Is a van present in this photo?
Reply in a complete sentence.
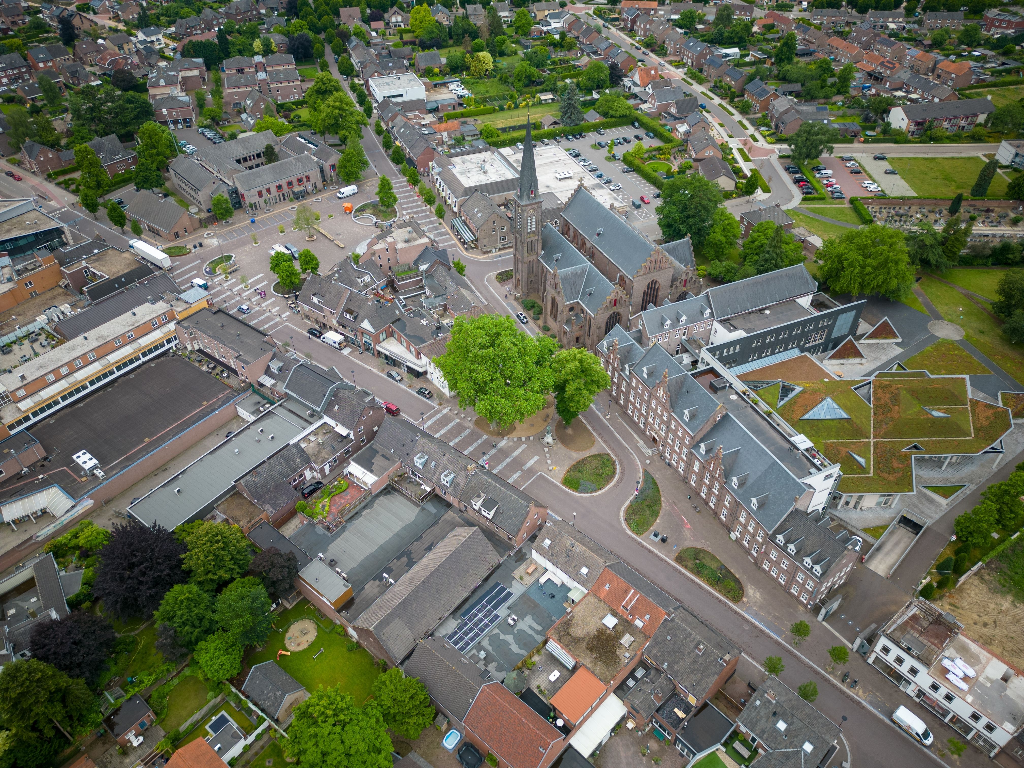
Yes, there's a van here.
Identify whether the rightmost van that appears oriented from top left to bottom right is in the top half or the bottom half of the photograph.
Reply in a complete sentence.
The bottom half of the photo is where the rightmost van that appears oriented from top left to bottom right is.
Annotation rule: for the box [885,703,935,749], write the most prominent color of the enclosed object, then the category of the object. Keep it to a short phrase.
white van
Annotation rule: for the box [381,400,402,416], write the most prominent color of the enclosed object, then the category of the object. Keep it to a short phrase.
red car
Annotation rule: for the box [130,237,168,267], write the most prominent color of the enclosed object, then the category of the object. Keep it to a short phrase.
white truck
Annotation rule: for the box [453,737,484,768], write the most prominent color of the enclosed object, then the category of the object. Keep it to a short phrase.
black trampoline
